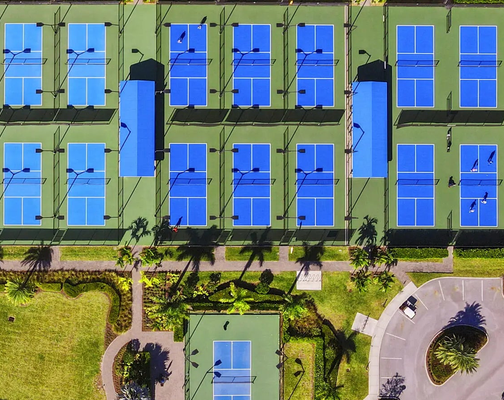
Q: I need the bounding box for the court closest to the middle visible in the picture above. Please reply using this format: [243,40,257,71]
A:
[233,144,270,226]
